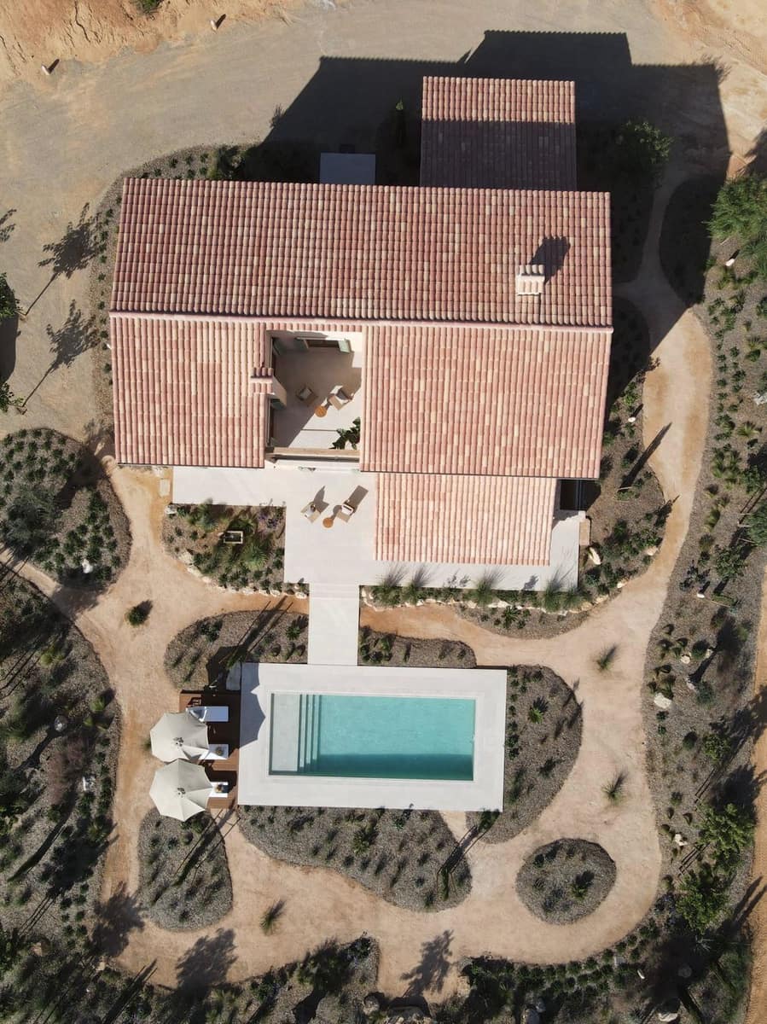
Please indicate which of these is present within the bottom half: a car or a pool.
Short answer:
pool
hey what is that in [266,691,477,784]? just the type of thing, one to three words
swimming pool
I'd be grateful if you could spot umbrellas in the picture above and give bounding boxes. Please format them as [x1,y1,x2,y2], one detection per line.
[150,756,215,819]
[149,706,210,761]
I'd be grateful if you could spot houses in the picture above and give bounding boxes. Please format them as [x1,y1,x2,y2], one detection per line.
[106,75,614,567]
